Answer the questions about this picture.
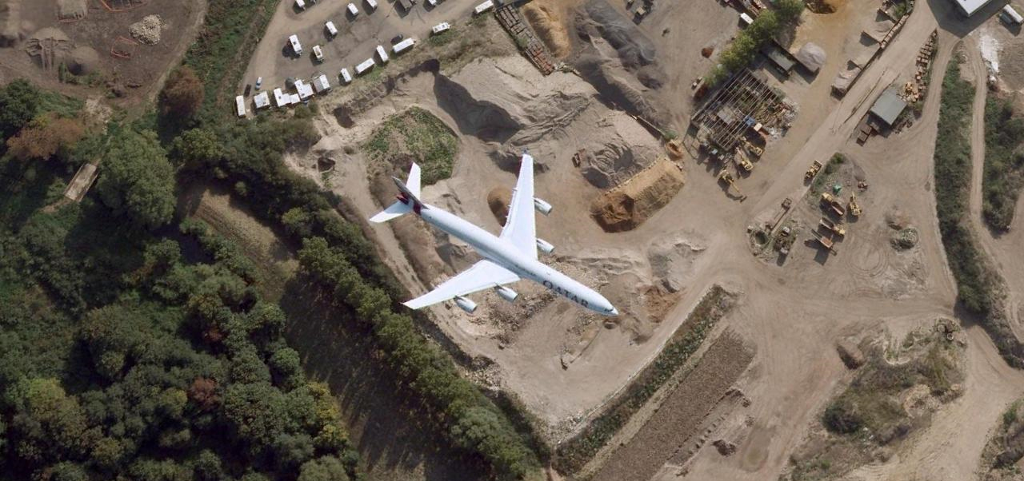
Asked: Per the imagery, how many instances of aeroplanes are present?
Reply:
one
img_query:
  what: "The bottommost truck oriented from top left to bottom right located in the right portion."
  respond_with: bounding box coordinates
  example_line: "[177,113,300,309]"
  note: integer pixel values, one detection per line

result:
[820,215,846,237]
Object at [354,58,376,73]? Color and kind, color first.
white camper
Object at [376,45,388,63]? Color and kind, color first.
white vehicle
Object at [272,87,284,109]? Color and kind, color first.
white vehicle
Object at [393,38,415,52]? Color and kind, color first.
white camper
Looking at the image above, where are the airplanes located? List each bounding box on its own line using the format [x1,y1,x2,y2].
[372,143,614,314]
